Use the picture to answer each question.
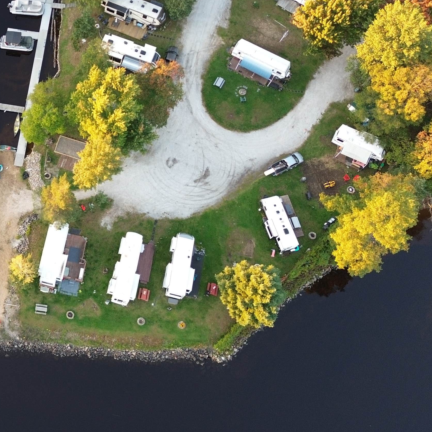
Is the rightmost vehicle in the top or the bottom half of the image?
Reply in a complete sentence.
It is in the top half that the rightmost vehicle appears.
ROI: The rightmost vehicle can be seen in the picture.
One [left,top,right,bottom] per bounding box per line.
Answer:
[331,125,382,173]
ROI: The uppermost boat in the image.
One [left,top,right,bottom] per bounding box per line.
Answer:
[5,0,44,16]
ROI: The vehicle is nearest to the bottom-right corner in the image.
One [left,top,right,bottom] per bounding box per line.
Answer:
[257,198,298,259]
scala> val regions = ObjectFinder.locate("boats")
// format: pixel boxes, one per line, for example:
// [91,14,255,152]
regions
[0,30,34,51]
[13,113,20,137]
[5,0,44,16]
[0,145,17,150]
